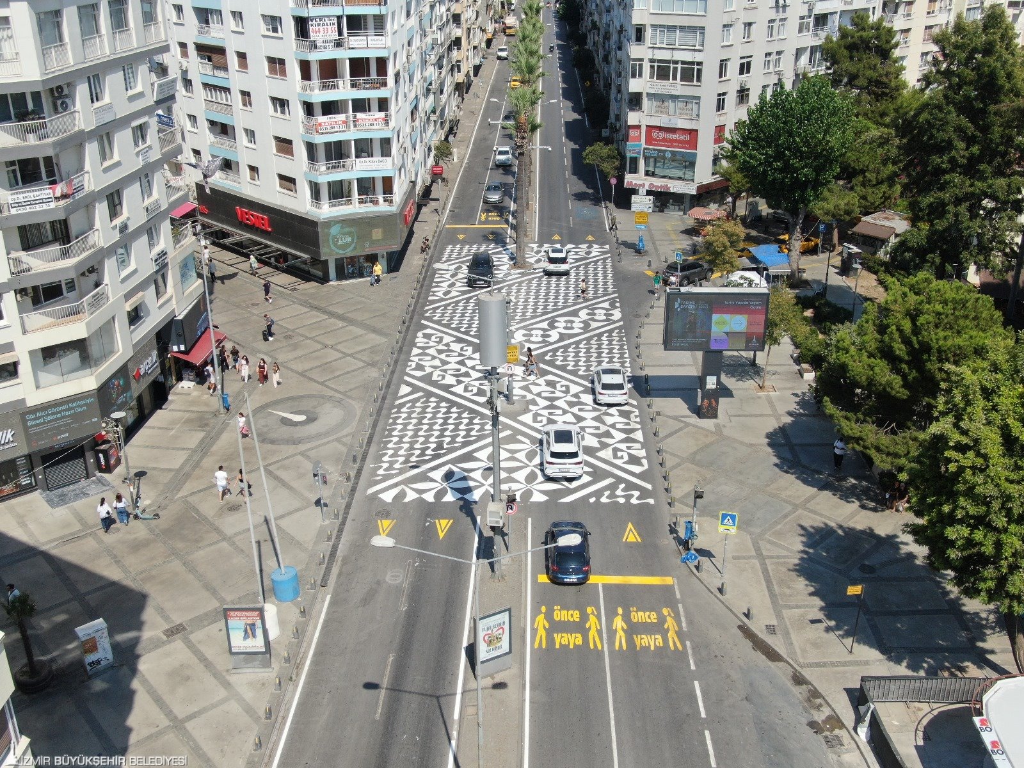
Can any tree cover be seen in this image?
Yes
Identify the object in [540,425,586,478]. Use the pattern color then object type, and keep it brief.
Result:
white car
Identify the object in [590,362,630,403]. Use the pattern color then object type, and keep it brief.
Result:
white car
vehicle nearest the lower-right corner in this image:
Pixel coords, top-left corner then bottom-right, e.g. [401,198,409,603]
[541,512,593,580]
